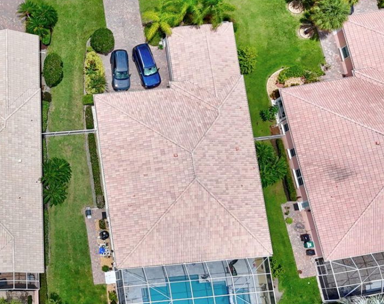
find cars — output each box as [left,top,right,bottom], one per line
[133,45,159,87]
[110,50,131,89]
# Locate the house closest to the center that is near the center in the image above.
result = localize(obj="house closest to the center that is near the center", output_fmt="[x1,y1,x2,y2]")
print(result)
[92,20,277,271]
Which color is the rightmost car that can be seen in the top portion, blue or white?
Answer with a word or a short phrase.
blue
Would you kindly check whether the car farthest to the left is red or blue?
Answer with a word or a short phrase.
blue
